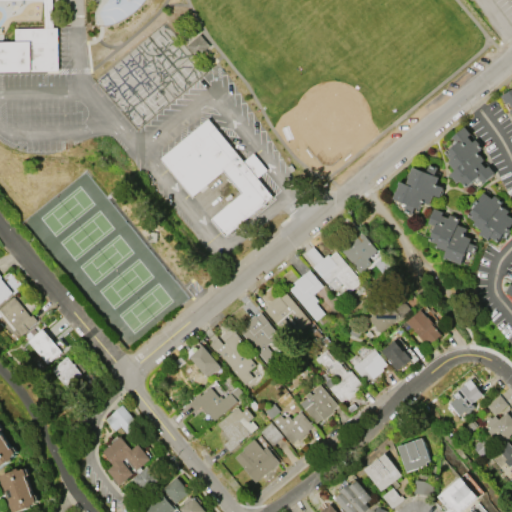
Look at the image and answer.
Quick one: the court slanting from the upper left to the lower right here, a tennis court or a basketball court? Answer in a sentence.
In the photo, the court slanting from the upper left to the lower right shows up as a tennis court.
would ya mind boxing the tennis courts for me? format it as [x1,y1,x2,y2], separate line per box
[26,172,190,350]
[62,211,115,260]
[82,235,134,284]
[120,284,174,333]
[101,260,154,308]
[42,186,96,236]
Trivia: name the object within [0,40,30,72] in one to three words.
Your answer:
building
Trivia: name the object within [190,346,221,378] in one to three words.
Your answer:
house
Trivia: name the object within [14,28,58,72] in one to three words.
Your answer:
building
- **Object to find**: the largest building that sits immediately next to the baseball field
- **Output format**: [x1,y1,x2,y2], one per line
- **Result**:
[162,118,276,236]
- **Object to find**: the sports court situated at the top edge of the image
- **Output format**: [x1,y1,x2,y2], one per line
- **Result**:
[95,0,148,27]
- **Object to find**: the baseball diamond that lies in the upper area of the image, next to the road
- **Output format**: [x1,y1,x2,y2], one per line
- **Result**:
[184,0,486,174]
